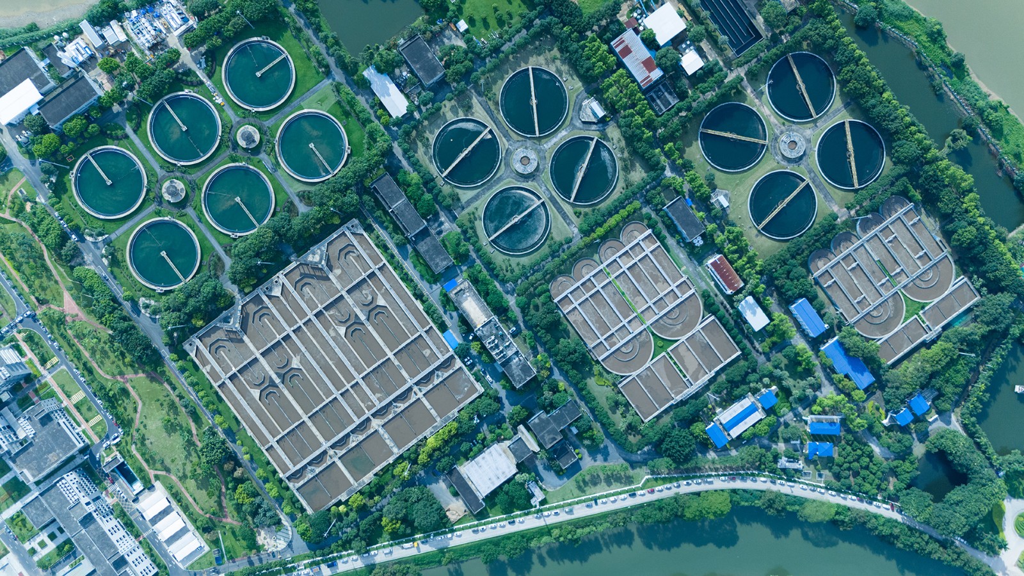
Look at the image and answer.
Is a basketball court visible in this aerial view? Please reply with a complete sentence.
No, there's no basketball court here.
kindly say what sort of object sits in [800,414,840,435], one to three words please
house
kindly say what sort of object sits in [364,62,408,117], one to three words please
shed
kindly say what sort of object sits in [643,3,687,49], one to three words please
building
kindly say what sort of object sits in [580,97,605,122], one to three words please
house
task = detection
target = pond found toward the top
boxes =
[318,0,424,58]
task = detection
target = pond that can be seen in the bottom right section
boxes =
[911,447,971,507]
